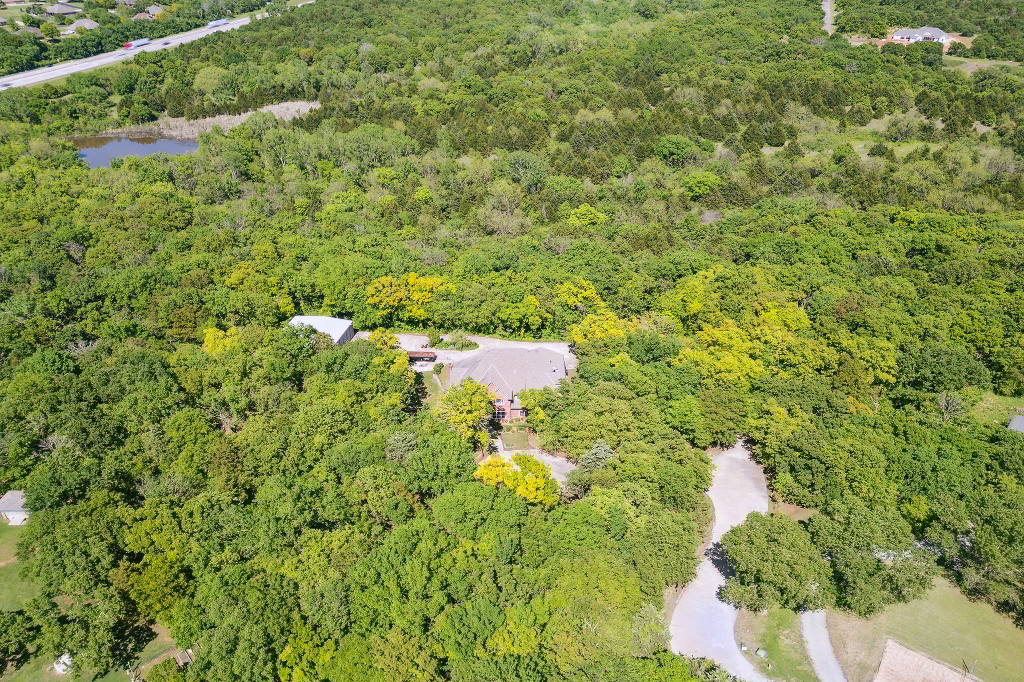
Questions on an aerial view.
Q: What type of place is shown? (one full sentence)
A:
This looks like a forest.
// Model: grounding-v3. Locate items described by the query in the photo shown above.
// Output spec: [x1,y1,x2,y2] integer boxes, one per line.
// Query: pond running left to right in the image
[66,135,198,167]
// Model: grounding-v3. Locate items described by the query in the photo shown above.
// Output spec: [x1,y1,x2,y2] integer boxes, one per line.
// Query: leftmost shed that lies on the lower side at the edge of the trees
[0,489,36,530]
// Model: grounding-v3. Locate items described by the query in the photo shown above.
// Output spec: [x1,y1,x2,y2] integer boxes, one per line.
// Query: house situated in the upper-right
[889,26,954,45]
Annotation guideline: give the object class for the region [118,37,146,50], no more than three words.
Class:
vehicle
